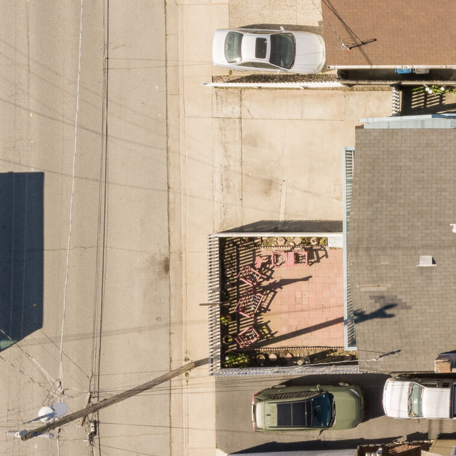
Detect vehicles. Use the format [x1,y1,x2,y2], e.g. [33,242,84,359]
[252,381,364,437]
[383,375,456,426]
[210,24,325,76]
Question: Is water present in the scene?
No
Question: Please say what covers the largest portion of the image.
paved ground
